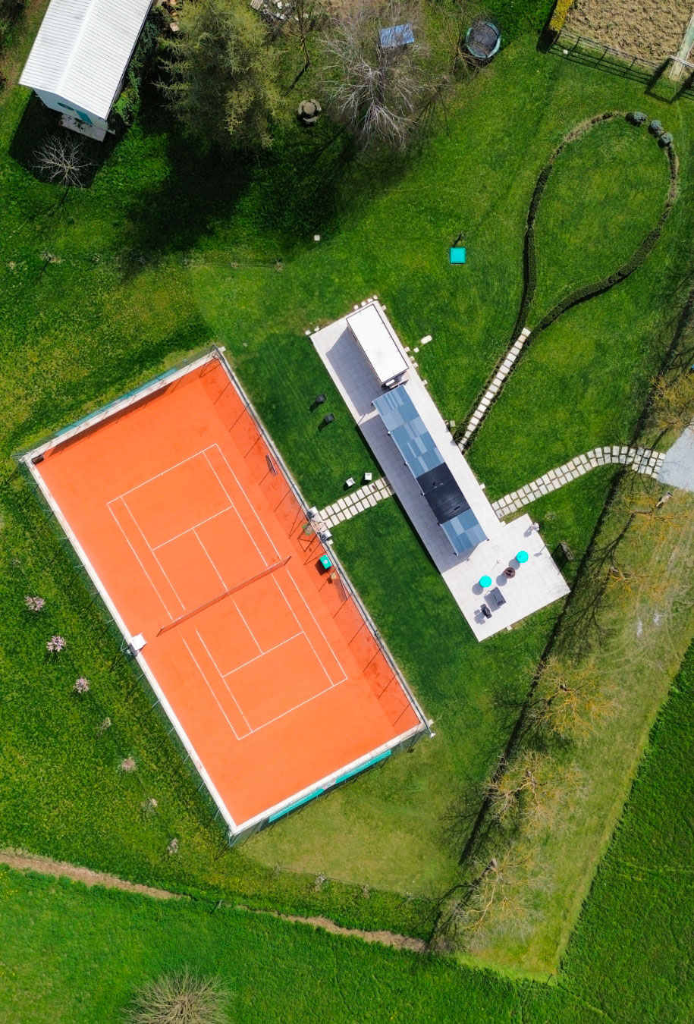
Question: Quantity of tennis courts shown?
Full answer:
Just 1 tennis court appears in this view.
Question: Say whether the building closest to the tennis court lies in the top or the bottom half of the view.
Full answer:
The building closest to the tennis court is in the top half of the image.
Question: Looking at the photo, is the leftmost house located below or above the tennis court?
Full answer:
The leftmost house appears above the tennis court in the picture.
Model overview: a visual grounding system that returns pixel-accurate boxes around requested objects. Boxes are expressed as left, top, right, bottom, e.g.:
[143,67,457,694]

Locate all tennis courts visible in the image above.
[24,348,431,834]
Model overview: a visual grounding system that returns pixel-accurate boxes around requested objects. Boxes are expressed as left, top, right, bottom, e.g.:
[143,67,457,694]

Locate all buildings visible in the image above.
[346,305,408,387]
[19,0,163,131]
